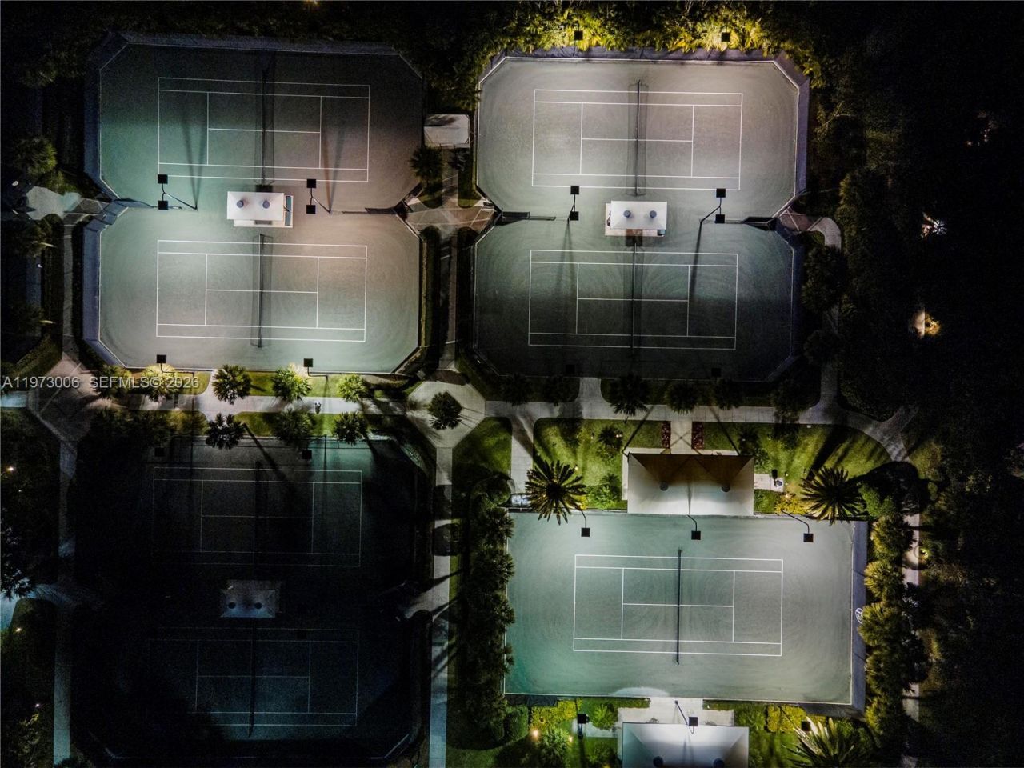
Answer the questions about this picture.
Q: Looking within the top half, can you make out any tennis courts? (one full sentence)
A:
Yes, a tennis court appears within the top half.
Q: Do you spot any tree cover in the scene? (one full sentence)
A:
Yes, tree cover shows up in the scene.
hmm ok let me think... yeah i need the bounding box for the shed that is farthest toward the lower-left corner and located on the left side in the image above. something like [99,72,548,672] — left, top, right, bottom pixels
[221,576,294,616]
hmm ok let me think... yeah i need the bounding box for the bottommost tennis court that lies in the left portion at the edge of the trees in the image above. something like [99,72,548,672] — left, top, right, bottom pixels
[92,589,413,758]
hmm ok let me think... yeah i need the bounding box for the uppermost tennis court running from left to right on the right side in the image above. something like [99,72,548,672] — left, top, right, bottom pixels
[476,57,799,217]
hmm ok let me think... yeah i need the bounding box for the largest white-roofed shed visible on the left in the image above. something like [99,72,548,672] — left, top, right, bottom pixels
[226,191,303,231]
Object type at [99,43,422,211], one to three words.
tennis court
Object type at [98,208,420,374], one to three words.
tennis court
